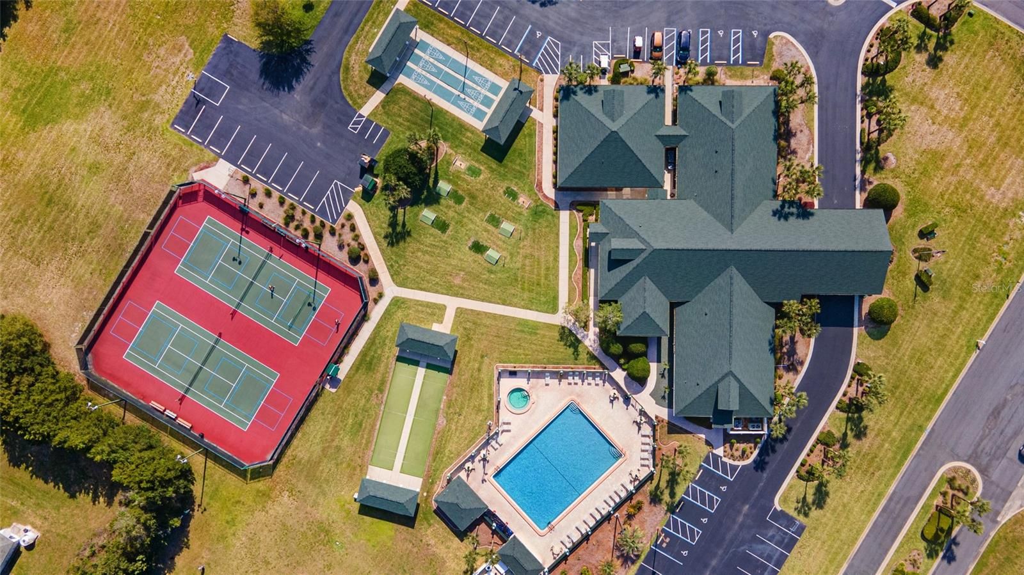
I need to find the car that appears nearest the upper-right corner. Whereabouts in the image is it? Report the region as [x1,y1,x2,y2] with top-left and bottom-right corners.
[680,31,694,62]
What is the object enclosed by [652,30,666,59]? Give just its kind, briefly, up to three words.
car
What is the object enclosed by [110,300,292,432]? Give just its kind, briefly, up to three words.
tennis court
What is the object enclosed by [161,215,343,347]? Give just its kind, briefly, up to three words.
tennis court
